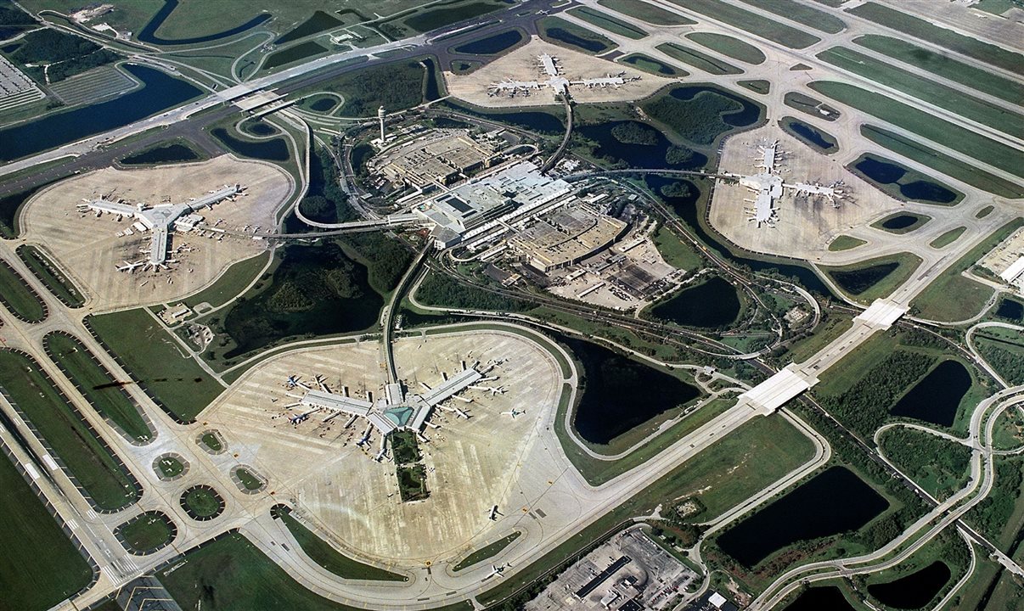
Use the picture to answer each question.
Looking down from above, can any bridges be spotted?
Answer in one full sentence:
Yes, I can see a bridge in this picture.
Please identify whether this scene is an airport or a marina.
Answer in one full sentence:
This looks like an airport.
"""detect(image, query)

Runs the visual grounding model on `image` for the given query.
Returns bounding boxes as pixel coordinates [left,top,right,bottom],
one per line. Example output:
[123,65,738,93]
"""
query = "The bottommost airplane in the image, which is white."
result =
[487,556,514,577]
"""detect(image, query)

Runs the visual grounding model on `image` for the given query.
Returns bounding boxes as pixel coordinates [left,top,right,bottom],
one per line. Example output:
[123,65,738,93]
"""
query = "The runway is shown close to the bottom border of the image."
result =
[0,394,141,584]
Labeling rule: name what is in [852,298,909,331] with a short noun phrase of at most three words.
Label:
bridge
